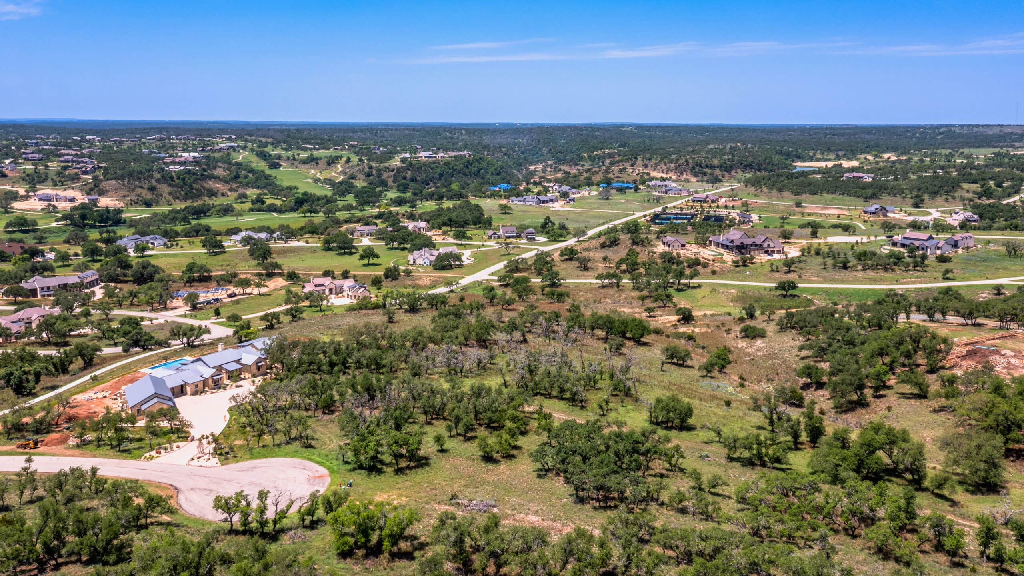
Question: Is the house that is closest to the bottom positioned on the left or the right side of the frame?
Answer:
left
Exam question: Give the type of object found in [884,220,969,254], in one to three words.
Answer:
house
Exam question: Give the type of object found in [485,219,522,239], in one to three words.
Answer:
house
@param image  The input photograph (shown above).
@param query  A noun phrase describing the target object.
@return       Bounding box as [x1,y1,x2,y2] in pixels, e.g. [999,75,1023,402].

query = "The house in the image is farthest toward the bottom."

[125,336,274,422]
